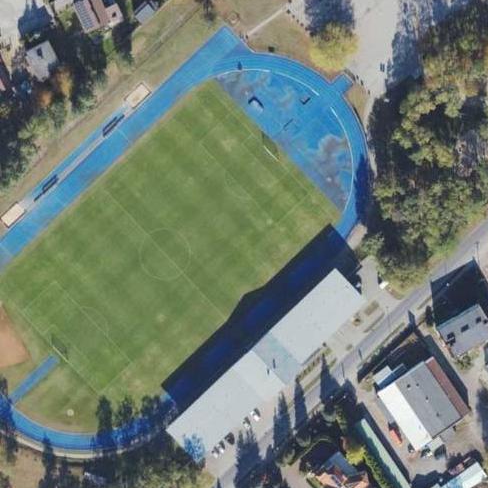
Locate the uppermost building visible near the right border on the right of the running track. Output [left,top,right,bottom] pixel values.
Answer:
[436,304,488,356]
